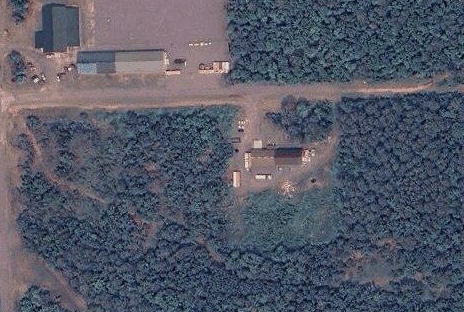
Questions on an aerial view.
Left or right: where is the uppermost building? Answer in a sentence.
The uppermost building appears in the left half of the scene.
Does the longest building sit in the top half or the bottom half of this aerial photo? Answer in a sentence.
You can find the longest building in the top half.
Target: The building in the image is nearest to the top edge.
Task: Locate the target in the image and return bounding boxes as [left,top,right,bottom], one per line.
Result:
[35,4,79,51]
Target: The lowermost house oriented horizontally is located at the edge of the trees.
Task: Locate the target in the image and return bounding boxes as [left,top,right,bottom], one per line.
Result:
[250,148,303,170]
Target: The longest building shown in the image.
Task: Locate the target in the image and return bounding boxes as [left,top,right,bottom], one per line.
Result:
[78,49,165,74]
